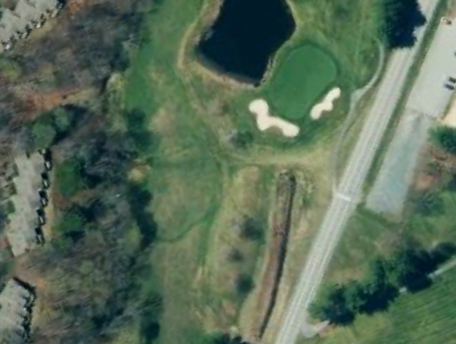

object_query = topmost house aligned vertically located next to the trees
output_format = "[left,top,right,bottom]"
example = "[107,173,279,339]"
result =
[6,153,50,256]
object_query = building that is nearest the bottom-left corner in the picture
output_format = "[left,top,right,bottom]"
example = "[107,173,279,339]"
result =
[0,279,34,344]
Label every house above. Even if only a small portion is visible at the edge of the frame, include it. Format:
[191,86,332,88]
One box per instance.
[6,153,50,256]
[0,279,34,344]
[0,0,61,54]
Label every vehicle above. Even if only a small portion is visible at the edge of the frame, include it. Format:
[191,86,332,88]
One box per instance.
[448,75,456,83]
[444,83,454,90]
